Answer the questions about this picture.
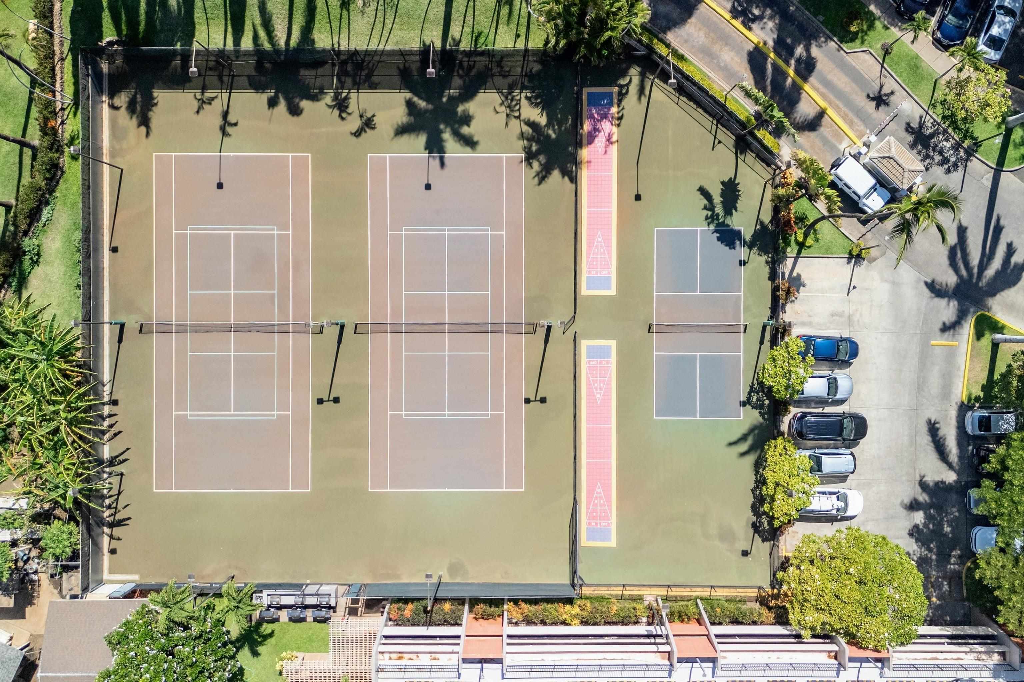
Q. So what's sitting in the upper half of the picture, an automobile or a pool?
automobile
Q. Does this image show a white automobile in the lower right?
Yes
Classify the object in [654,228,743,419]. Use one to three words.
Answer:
sports court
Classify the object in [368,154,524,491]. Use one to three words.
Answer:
tennis court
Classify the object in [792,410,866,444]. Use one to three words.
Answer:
car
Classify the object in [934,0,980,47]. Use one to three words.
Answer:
car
